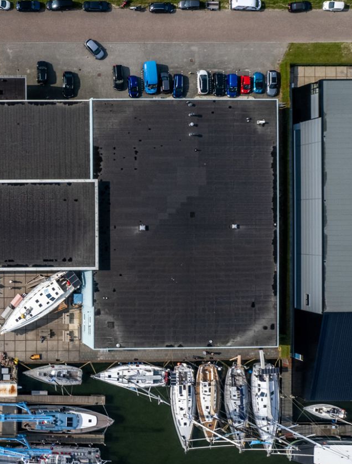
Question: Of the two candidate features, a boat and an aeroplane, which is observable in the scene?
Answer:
boat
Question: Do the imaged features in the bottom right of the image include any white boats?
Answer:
Yes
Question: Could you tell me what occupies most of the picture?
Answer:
buildings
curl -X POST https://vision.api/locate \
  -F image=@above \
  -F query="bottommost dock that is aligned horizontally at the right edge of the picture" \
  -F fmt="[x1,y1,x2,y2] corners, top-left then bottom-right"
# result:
[281,421,352,439]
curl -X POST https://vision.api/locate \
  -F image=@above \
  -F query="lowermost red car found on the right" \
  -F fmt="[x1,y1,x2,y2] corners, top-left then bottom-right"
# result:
[239,74,251,94]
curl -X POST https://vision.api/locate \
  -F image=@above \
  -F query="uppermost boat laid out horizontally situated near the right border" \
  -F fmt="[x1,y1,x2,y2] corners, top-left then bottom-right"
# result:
[303,404,352,424]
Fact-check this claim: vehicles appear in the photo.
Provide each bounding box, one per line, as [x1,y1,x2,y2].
[252,72,265,93]
[170,73,183,97]
[46,0,73,11]
[143,60,157,95]
[62,72,74,97]
[225,73,239,96]
[0,0,10,11]
[265,71,279,95]
[158,72,170,93]
[239,74,251,94]
[213,73,226,97]
[287,0,310,13]
[148,1,174,14]
[82,0,110,12]
[177,0,199,10]
[35,61,48,84]
[196,71,210,95]
[17,0,40,12]
[228,0,260,11]
[112,64,125,91]
[322,0,344,11]
[84,38,105,61]
[127,75,139,96]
